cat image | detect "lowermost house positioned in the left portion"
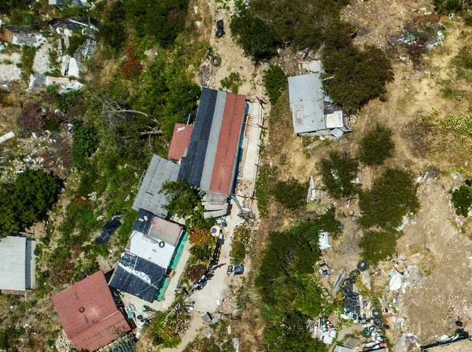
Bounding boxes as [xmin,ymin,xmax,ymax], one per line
[52,269,144,352]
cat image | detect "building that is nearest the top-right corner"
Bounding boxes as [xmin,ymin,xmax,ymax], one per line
[287,72,343,141]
